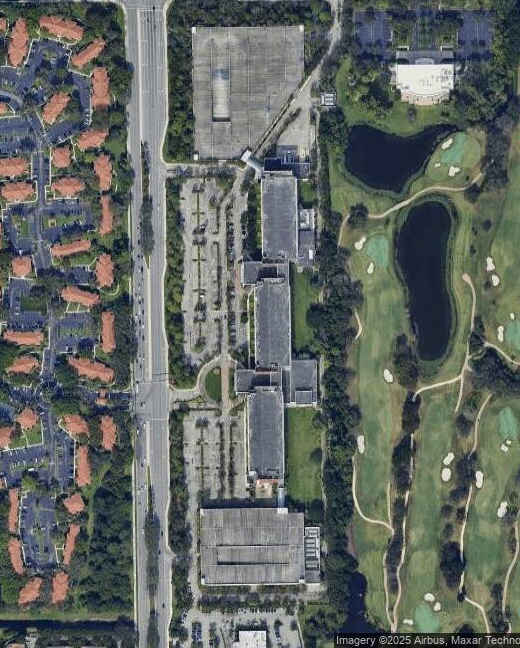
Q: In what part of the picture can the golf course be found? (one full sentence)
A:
You can find the golf course in the right area of the picture.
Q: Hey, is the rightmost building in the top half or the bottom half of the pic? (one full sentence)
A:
The rightmost building sits in the top half of the picture.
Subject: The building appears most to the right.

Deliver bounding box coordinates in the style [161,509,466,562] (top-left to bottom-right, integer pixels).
[390,59,460,106]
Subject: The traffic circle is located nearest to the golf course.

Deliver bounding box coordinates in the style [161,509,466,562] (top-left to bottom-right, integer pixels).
[198,353,222,409]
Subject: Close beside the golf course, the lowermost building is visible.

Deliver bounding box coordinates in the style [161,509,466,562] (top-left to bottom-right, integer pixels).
[200,507,305,586]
